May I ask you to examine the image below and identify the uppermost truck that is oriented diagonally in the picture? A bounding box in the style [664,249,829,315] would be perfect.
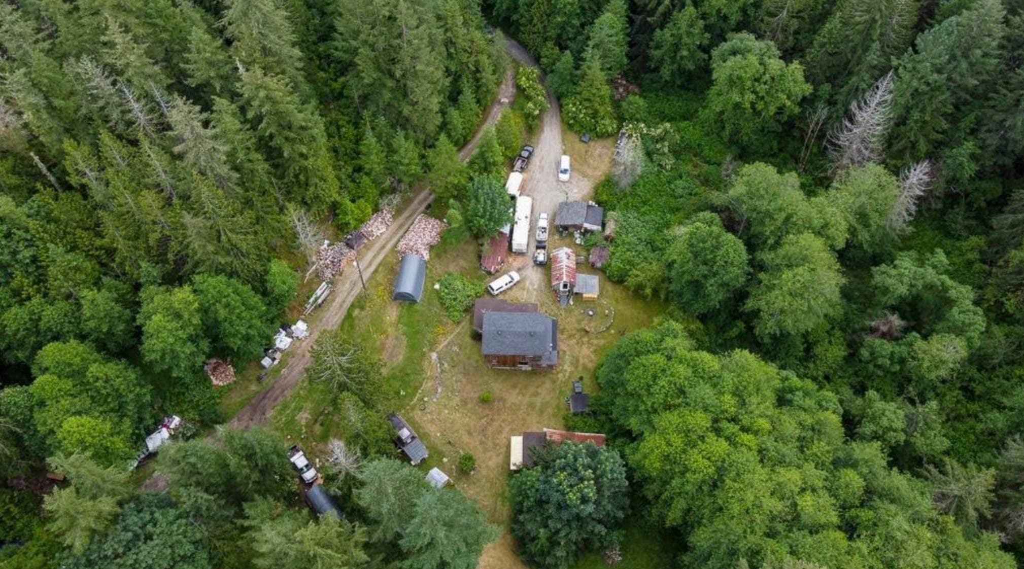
[514,146,535,173]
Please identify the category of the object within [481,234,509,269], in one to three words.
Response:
shed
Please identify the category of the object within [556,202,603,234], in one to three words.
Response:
building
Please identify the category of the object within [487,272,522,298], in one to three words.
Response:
car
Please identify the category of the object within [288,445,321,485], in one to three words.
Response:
truck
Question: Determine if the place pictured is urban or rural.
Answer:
rural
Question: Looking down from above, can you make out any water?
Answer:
No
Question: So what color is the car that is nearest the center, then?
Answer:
white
